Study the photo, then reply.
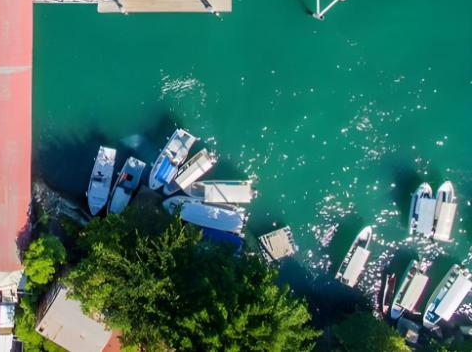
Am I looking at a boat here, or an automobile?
boat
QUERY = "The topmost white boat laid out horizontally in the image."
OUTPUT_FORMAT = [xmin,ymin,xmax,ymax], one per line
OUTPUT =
[187,178,255,201]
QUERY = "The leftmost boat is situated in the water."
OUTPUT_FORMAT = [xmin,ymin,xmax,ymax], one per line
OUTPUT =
[89,146,116,214]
